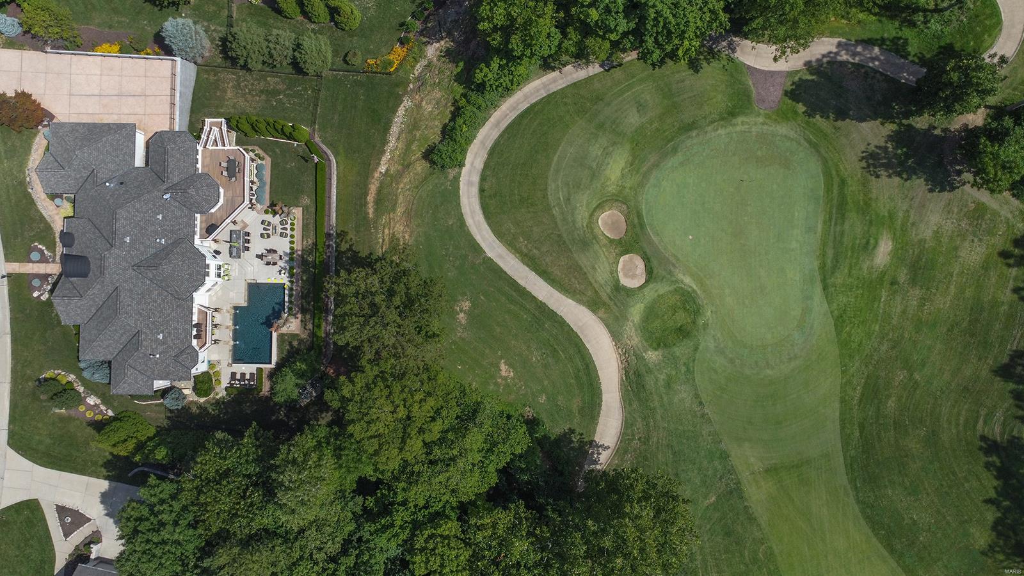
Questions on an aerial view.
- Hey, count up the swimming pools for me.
1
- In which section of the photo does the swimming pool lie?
left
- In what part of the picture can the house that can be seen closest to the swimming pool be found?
left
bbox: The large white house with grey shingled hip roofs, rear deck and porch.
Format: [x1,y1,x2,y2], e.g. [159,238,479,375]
[34,119,254,395]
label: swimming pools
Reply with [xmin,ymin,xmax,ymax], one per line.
[227,280,289,367]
